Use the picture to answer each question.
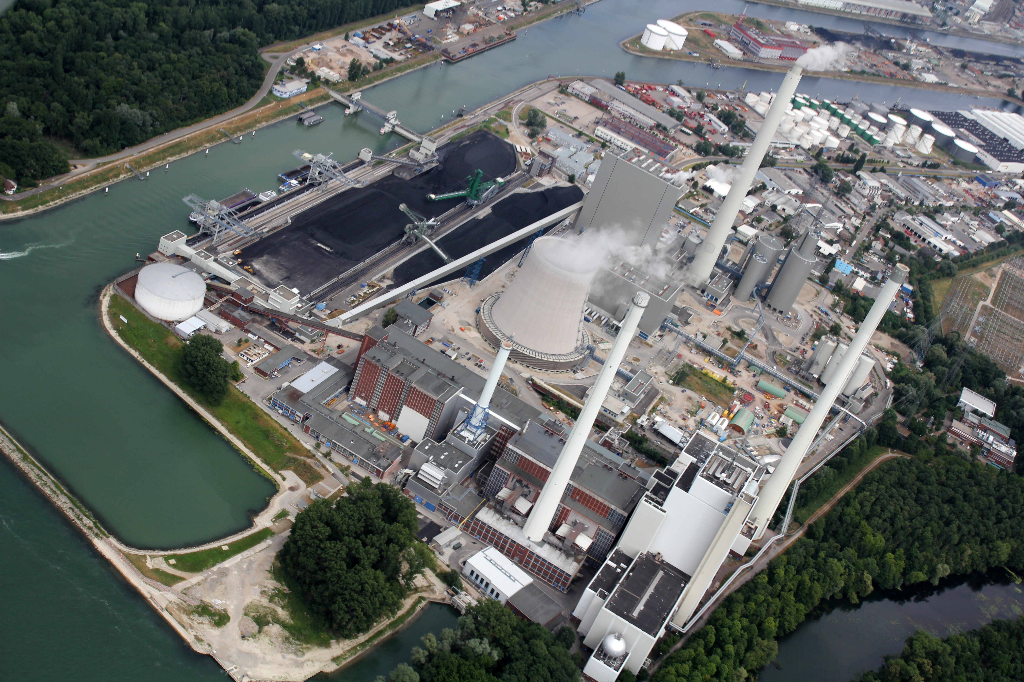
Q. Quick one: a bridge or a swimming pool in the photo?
bridge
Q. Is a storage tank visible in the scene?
Yes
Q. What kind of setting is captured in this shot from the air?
port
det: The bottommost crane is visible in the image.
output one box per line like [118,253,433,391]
[184,194,257,243]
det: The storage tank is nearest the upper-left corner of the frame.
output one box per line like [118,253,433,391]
[133,262,206,320]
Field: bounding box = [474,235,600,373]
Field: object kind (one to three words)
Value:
cooling tower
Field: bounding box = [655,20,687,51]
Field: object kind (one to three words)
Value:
storage tank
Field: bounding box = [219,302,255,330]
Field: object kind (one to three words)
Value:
house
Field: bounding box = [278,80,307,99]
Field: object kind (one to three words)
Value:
building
